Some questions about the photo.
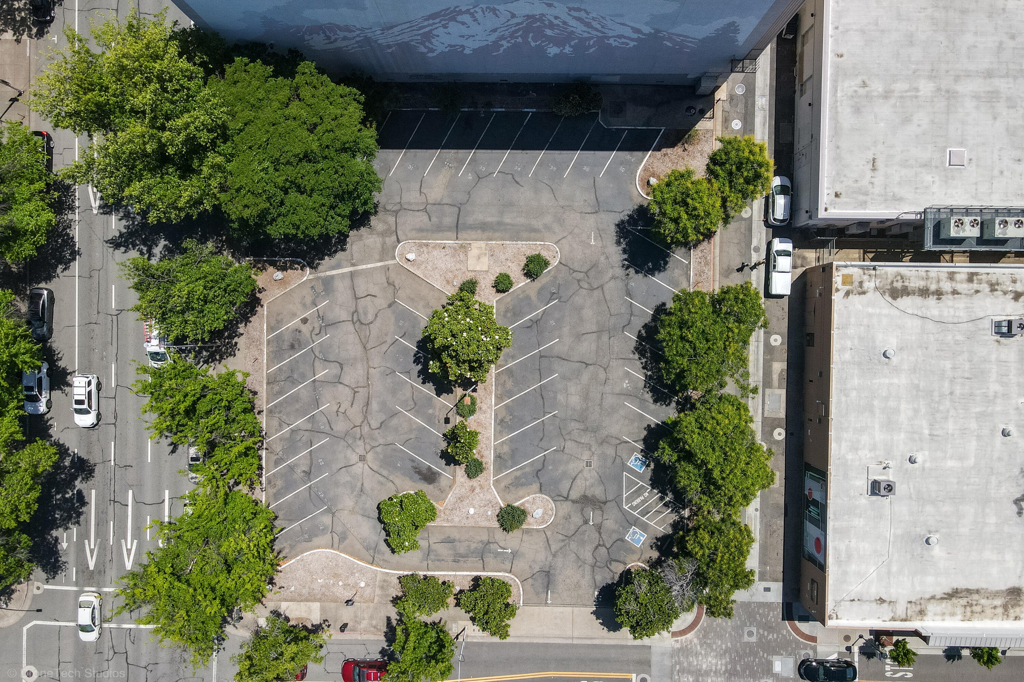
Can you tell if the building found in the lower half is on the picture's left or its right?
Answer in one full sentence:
It is on the right.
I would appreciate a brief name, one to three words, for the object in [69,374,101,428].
car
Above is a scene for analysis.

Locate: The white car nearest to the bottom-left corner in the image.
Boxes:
[74,593,103,643]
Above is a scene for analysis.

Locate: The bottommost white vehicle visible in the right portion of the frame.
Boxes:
[769,237,797,298]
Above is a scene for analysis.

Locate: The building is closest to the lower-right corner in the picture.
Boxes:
[800,262,1024,643]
